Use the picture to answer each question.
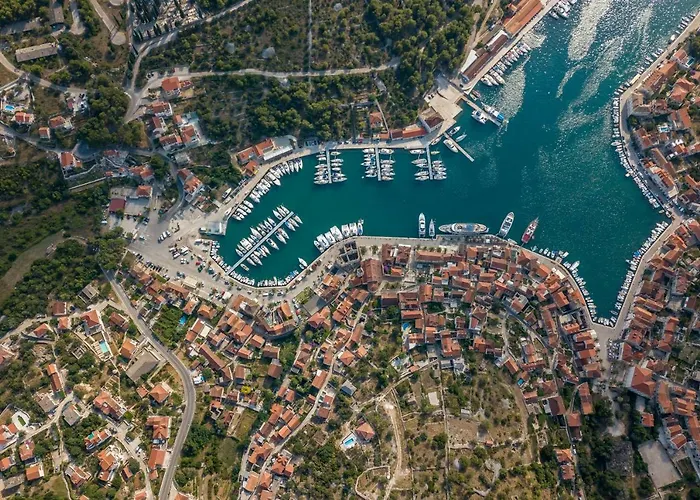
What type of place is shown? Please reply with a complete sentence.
What you see here is a residential area.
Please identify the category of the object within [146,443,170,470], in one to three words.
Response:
house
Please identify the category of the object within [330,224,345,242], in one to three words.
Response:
boat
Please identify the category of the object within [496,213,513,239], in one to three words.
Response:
ship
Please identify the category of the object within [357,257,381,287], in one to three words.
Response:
building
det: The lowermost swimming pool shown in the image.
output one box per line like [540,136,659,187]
[340,433,358,450]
